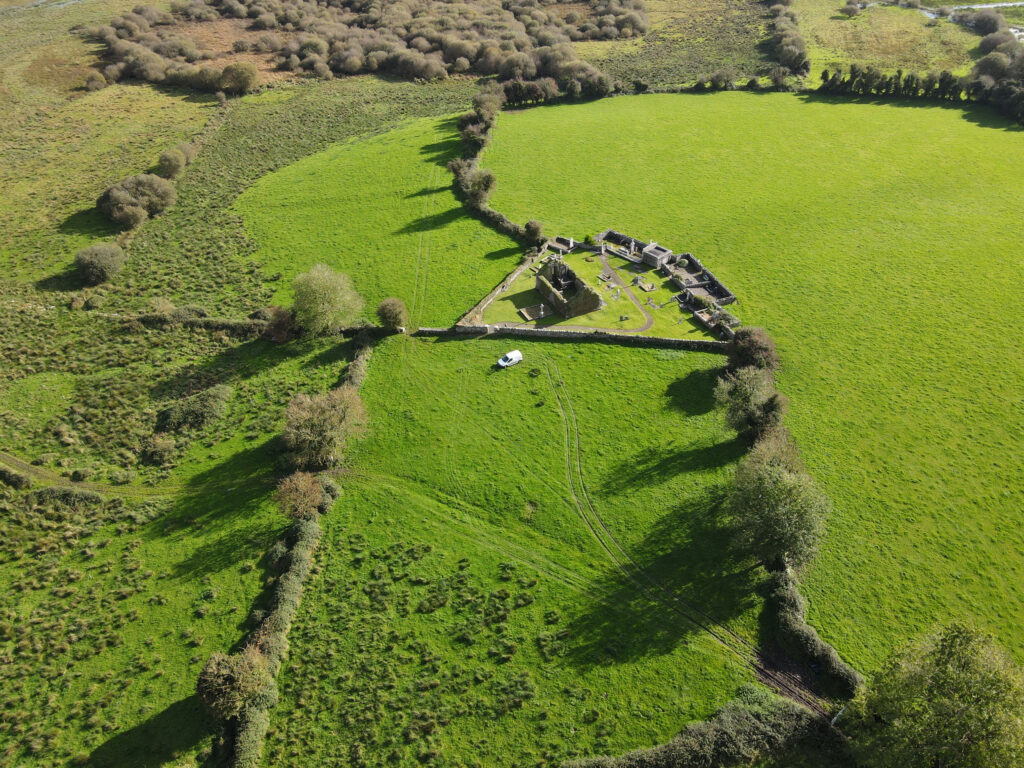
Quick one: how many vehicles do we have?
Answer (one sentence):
The count comes to 1 vehicle.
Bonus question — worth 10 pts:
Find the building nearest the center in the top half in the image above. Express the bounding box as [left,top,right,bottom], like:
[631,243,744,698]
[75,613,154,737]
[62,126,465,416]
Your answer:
[536,257,603,317]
